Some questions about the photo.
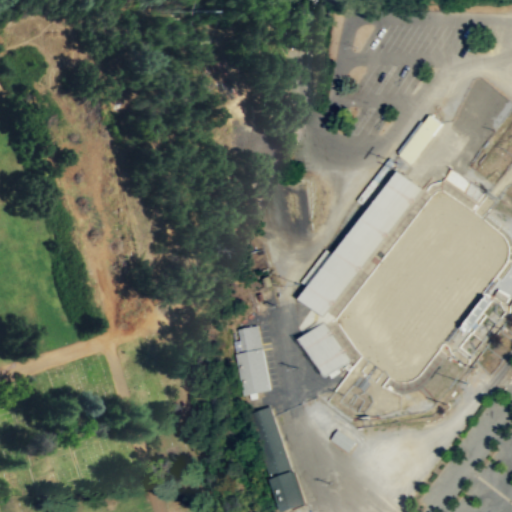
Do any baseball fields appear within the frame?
No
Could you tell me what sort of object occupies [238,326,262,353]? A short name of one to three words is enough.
barn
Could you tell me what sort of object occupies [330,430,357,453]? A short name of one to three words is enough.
shed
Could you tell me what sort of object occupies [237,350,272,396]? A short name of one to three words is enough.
barn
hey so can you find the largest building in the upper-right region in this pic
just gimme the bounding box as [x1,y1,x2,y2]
[400,114,446,164]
